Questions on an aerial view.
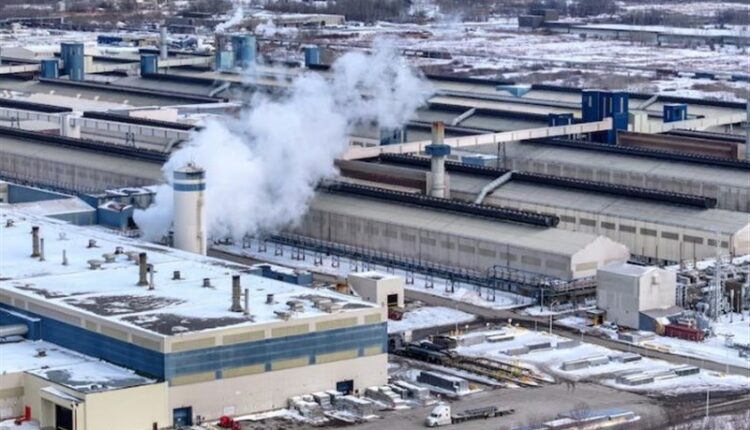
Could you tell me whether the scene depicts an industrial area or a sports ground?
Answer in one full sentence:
This looks like an industrial area.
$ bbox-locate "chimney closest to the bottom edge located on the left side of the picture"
[222,275,245,314]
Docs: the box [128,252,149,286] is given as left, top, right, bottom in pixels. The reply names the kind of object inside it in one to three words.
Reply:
chimney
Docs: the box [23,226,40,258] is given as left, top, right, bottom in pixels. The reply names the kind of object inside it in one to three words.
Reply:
chimney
